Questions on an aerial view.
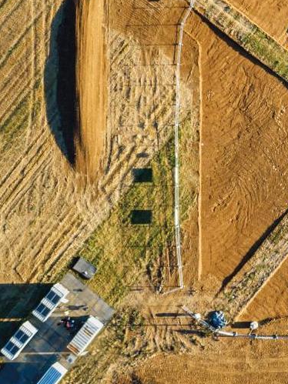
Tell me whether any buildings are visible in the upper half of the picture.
No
